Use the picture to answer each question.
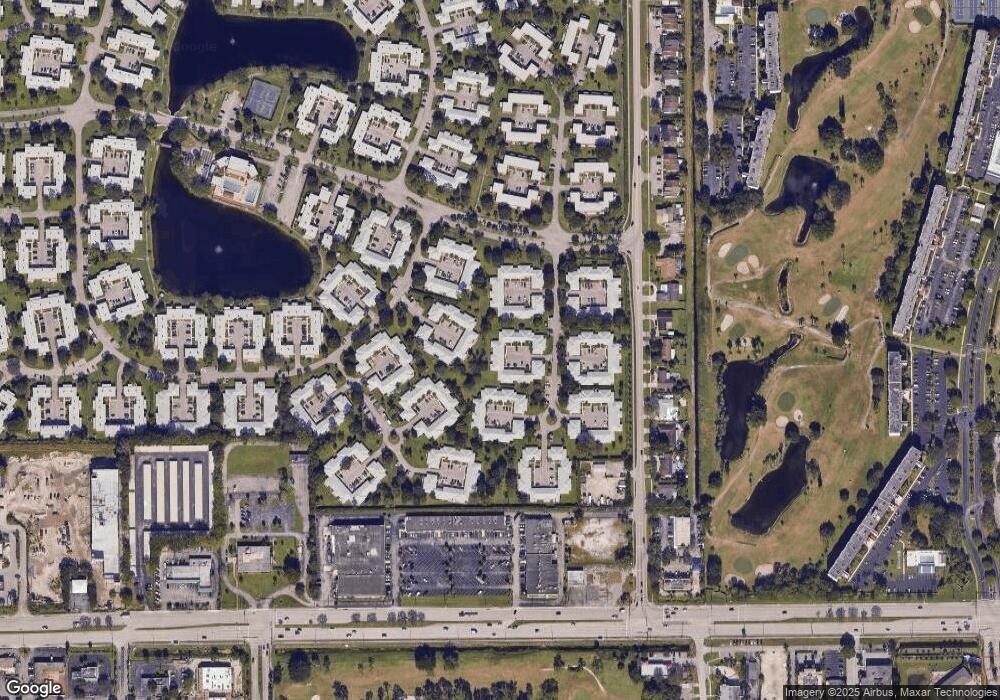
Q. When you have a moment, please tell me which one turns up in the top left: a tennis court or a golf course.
tennis court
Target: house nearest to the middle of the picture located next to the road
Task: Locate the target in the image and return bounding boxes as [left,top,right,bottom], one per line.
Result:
[488,328,546,384]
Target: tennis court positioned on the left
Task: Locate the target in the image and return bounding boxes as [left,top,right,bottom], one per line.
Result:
[246,79,284,119]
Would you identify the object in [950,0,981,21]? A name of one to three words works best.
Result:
tennis court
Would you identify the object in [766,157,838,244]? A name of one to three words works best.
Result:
pond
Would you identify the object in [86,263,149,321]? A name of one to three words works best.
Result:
house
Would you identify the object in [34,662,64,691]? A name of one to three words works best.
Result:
building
